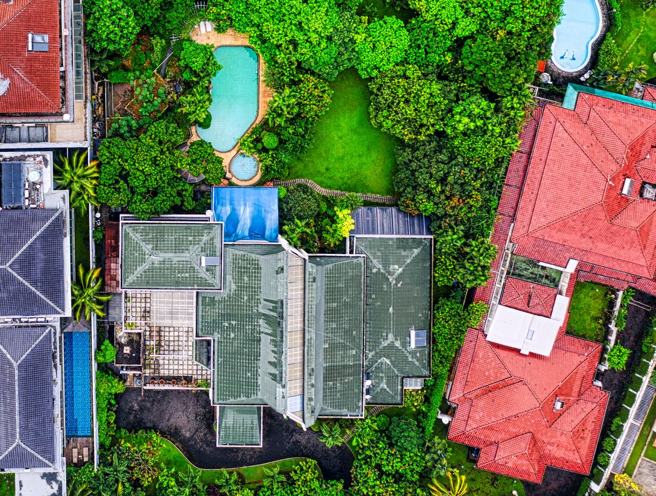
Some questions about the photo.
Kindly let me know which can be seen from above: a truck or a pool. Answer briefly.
pool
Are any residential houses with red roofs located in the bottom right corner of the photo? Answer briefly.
Yes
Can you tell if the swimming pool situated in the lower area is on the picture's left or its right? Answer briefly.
left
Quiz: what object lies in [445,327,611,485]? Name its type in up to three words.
house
